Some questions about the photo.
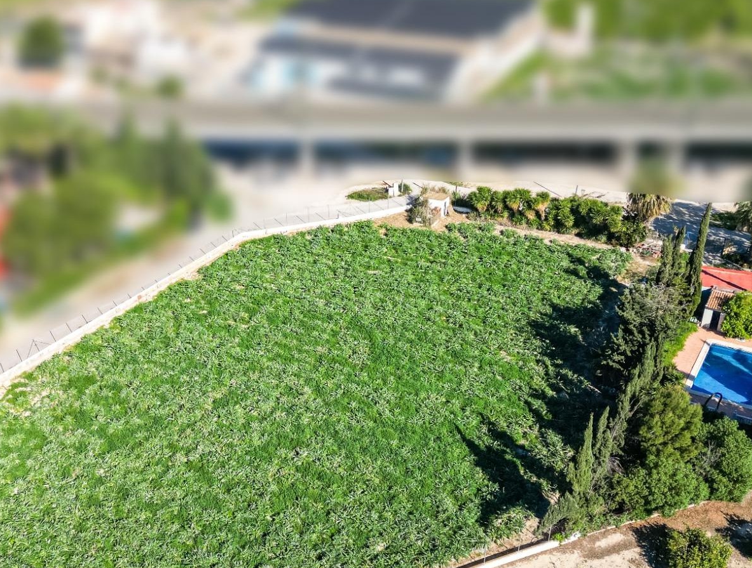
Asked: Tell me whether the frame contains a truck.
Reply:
No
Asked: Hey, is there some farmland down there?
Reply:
Yes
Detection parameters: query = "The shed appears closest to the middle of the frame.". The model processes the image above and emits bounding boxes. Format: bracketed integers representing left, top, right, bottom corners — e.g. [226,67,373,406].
[424,191,449,218]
